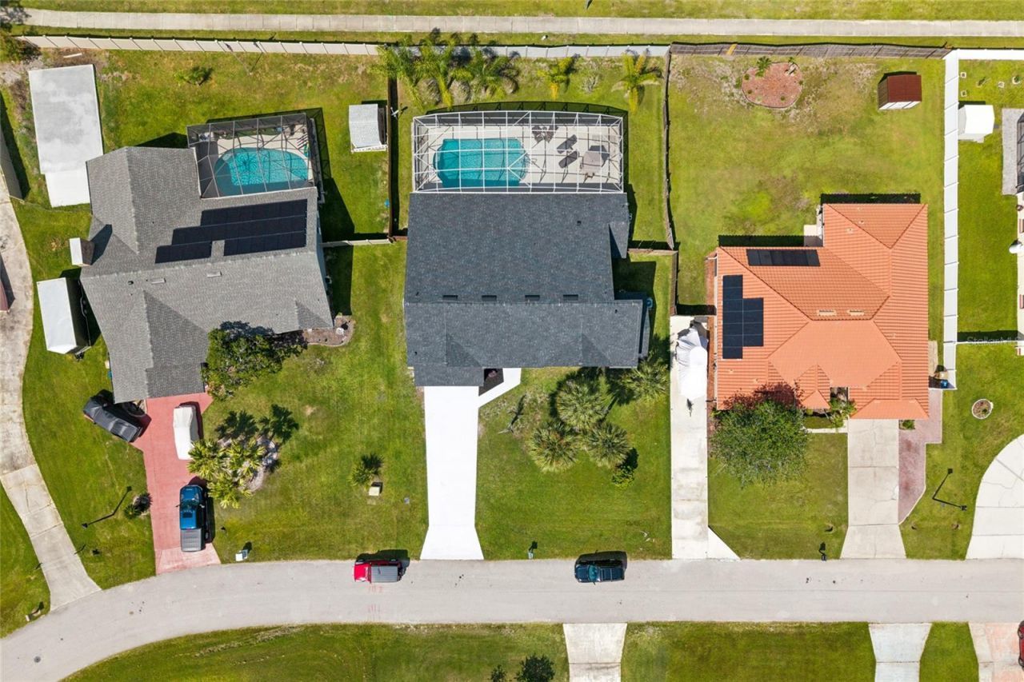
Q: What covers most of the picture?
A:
grass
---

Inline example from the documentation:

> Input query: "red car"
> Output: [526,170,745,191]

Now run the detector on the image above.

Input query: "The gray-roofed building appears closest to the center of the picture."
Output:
[405,192,649,386]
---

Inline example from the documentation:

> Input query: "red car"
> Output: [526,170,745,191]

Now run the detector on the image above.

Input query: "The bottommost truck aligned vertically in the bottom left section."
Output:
[177,487,206,550]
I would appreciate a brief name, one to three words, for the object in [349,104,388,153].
shed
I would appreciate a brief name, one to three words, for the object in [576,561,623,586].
car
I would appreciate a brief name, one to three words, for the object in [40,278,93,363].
trailer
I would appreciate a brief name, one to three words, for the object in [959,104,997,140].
shed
